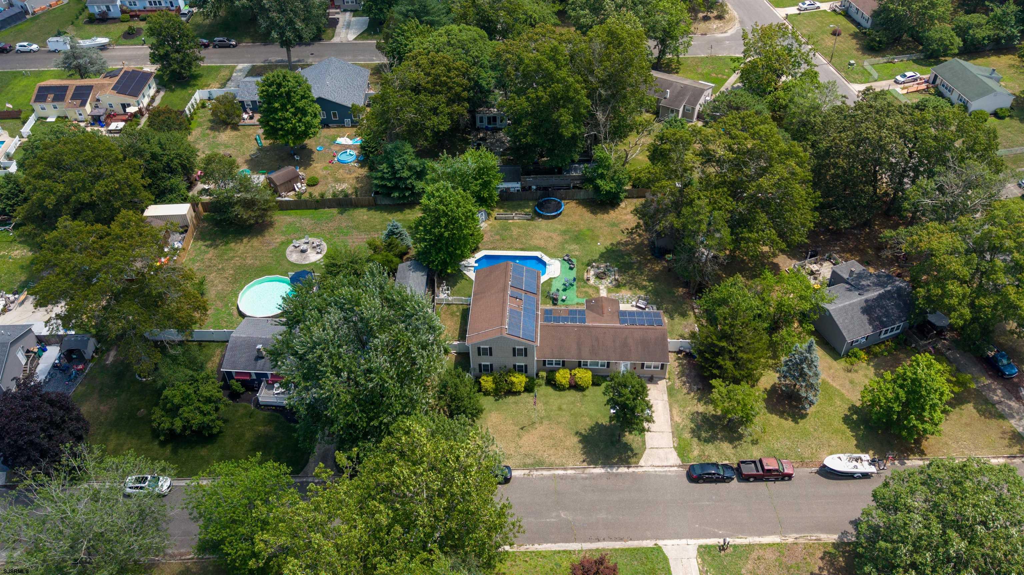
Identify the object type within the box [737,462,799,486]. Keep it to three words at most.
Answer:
truck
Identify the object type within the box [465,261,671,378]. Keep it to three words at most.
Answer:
house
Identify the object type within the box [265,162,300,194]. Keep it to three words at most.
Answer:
shed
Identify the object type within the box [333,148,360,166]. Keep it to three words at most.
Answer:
swimming pool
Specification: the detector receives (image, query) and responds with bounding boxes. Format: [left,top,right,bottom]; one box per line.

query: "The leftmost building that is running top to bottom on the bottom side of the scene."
[0,324,38,405]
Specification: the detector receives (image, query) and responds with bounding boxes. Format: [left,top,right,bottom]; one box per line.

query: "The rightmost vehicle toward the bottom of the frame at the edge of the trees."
[986,347,1024,384]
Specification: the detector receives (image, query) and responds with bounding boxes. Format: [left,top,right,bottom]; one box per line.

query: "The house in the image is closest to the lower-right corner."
[799,259,916,356]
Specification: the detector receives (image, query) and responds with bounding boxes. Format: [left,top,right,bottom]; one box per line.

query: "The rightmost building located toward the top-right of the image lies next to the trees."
[927,58,1016,114]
